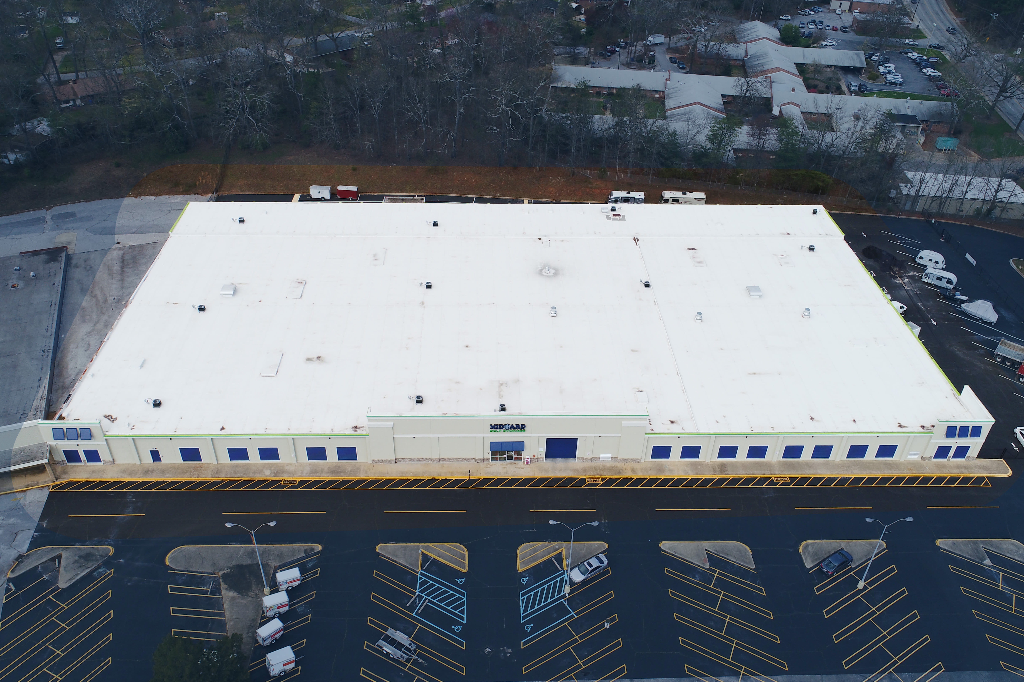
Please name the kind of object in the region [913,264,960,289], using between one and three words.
vehicle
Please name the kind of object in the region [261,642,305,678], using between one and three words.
trailer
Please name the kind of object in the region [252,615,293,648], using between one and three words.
trailer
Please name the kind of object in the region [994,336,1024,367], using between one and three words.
truck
